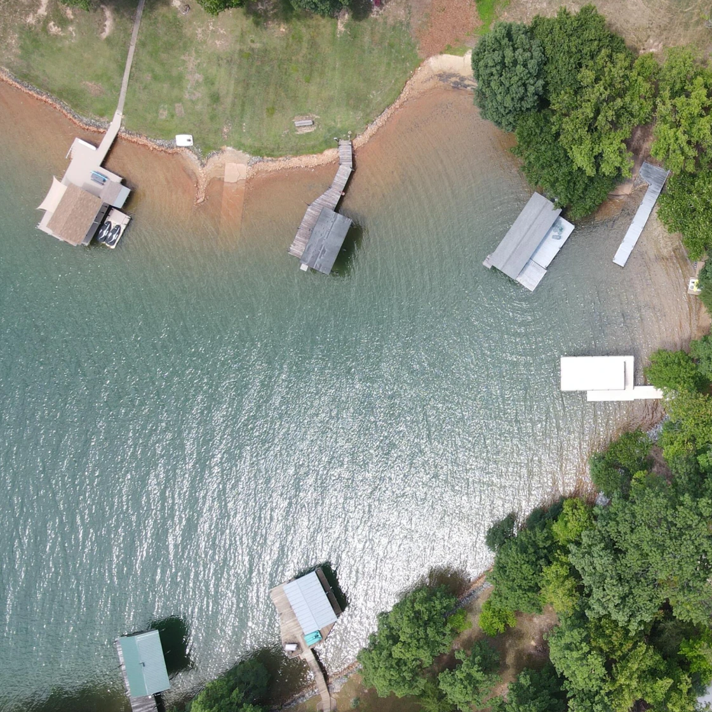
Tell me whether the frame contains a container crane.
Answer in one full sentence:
No, the picture doesn't show any container crane.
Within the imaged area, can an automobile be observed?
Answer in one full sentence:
No, the scene contains no automobile.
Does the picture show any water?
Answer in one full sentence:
Yes, water can be seen from above here.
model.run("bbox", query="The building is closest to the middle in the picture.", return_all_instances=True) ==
[288,187,357,276]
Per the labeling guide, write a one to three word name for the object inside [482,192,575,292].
building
